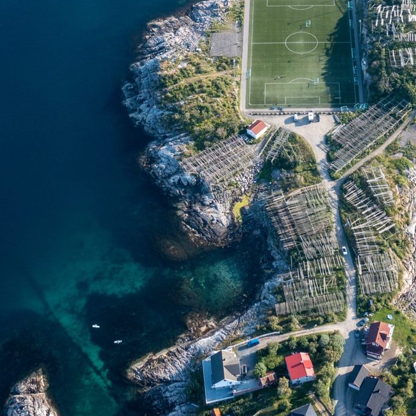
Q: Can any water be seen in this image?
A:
Yes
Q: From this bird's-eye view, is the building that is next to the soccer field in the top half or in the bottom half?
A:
top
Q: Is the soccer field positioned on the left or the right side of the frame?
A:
right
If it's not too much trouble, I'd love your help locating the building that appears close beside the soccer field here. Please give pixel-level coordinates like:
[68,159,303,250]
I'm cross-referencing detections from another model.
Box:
[244,120,271,141]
